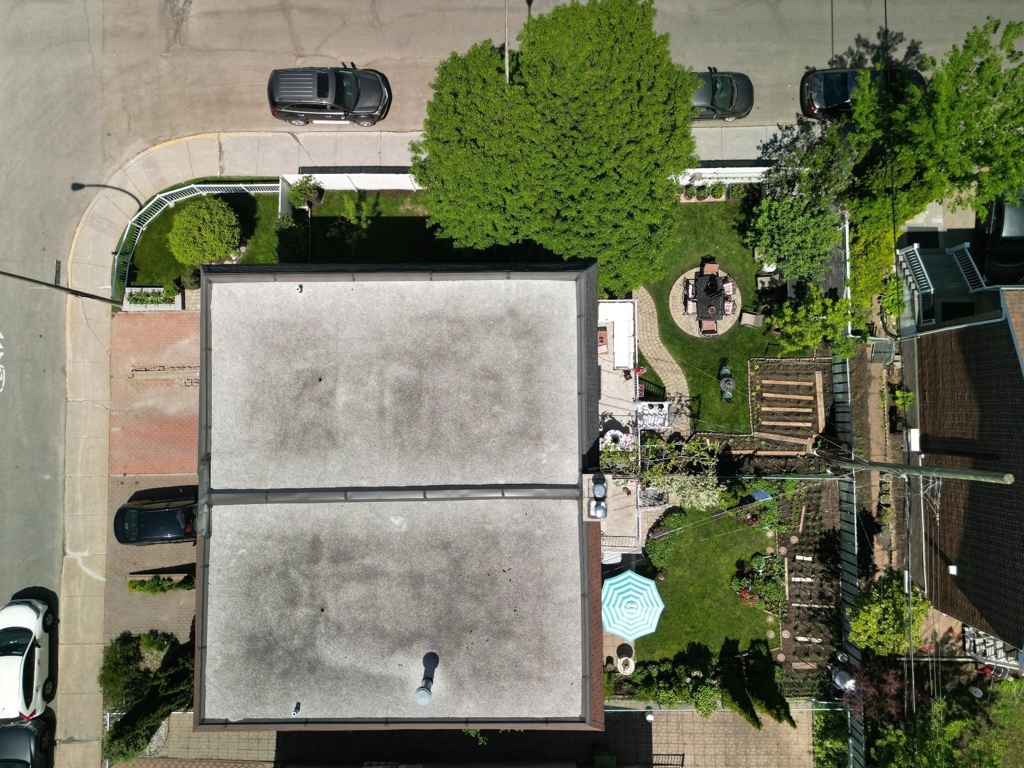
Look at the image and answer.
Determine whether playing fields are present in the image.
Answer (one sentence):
No, I find no playing field anywhere in the image.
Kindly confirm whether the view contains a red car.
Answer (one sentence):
No, the photo shows no red car.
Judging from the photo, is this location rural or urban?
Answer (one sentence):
The area shown here is urban.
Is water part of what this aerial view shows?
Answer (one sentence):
No, no water is visible.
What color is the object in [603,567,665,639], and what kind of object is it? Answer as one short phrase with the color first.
white umbrella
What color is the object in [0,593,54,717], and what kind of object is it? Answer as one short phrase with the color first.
white car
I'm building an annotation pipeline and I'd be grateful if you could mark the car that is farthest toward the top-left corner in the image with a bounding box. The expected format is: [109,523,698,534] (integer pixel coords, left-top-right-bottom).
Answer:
[263,59,390,125]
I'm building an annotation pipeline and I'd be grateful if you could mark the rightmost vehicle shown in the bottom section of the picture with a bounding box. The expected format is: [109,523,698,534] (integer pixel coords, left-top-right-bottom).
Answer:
[113,488,197,548]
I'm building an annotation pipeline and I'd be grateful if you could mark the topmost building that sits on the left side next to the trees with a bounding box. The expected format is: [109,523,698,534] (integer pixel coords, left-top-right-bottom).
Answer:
[197,261,600,534]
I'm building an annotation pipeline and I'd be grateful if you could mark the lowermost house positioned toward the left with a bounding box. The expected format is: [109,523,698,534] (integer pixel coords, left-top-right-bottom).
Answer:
[193,441,607,731]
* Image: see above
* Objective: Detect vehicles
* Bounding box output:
[113,488,197,548]
[0,593,54,717]
[0,715,54,768]
[796,56,925,119]
[668,61,756,121]
[263,59,390,125]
